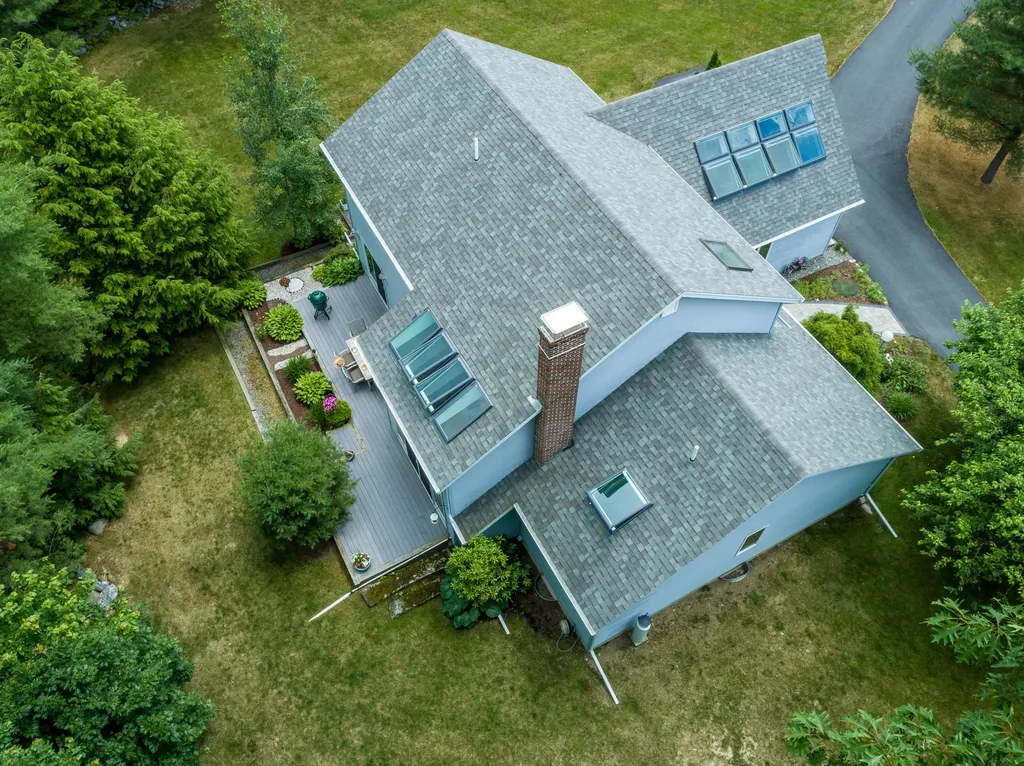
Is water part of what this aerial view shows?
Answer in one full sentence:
No, no water is visible.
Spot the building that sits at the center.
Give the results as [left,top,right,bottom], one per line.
[319,28,923,650]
